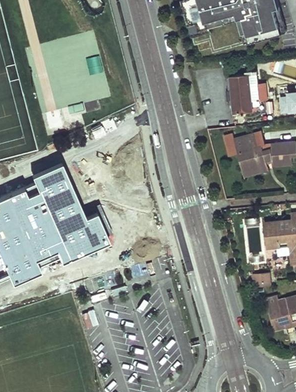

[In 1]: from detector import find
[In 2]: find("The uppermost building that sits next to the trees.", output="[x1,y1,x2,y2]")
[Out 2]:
[183,0,279,52]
